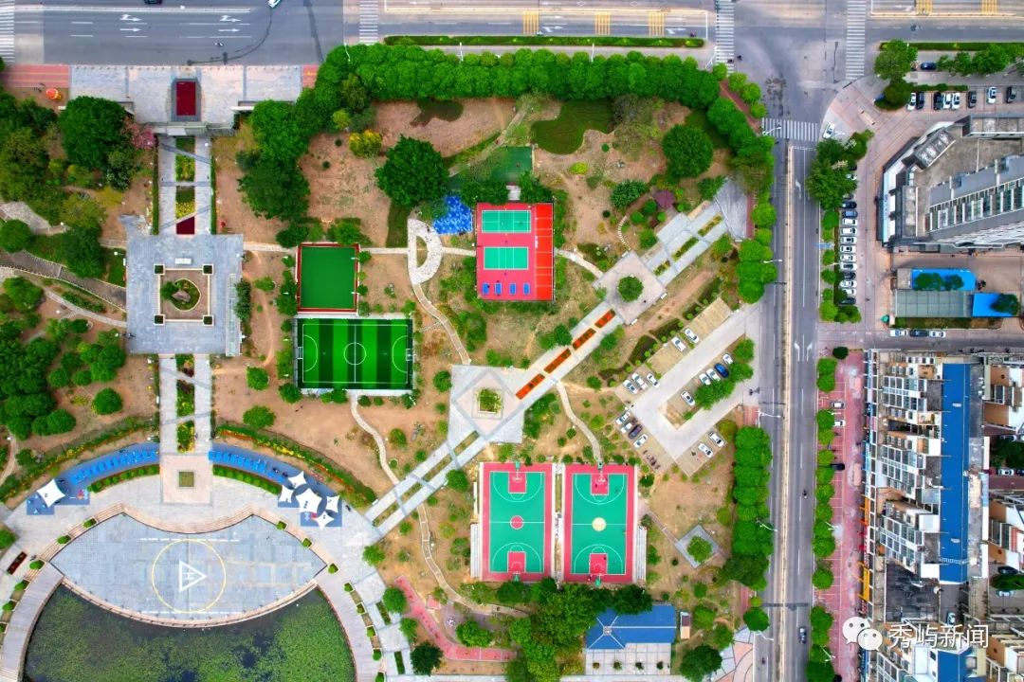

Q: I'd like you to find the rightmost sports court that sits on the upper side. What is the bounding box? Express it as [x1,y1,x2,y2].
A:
[476,202,553,301]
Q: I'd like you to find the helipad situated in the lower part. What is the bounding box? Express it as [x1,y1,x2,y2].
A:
[151,539,226,613]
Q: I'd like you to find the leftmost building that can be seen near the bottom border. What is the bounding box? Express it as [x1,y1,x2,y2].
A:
[586,602,676,650]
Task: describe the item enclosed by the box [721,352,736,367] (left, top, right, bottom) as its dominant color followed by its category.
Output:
white car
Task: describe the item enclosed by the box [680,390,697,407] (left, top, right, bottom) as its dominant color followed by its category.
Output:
white car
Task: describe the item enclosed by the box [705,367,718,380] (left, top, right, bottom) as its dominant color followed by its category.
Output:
white vehicle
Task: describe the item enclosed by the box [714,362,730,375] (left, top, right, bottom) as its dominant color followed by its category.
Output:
blue vehicle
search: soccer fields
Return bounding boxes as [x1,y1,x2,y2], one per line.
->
[293,313,414,395]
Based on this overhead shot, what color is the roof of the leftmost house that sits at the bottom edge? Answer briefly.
blue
